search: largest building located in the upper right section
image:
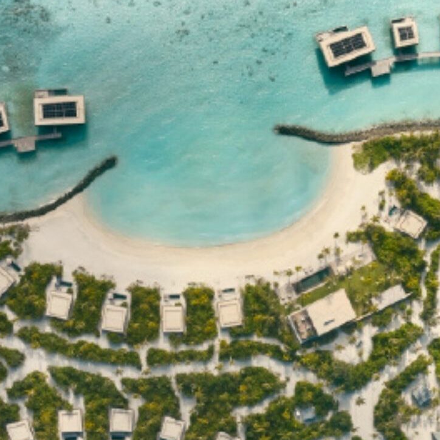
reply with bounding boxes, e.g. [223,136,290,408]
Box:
[318,23,376,68]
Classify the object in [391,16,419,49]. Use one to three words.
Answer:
house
